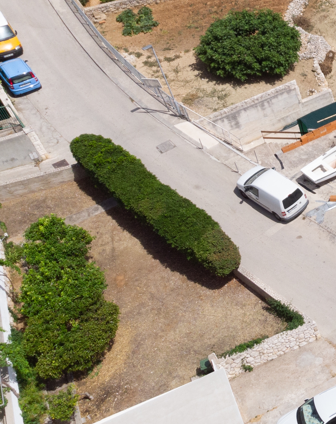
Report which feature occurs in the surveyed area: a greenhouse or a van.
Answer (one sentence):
This aerial view contains a van.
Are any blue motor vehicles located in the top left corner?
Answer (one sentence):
Yes, a blue motor vehicle appears in the top left corner.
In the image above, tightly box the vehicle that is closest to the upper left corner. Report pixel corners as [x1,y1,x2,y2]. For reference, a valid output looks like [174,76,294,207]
[0,0,23,52]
